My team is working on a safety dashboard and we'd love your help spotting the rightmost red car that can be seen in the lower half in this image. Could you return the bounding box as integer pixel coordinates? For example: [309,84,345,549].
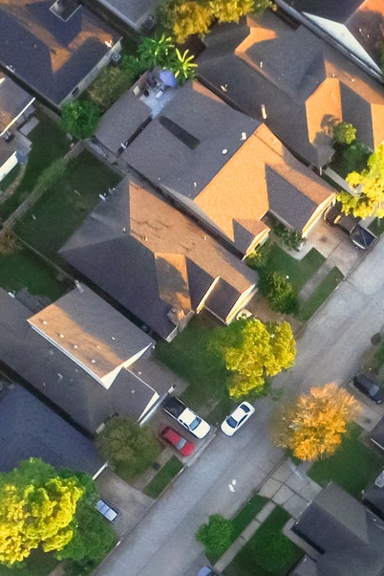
[155,422,198,459]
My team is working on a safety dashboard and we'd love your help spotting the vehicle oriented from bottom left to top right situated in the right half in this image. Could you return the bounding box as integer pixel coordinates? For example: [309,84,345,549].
[219,398,258,439]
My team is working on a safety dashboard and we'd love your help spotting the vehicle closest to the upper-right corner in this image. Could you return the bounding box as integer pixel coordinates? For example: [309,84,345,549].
[323,203,374,251]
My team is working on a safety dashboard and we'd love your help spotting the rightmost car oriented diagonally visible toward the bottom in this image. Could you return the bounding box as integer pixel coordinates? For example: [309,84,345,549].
[347,368,384,408]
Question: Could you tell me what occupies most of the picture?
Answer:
buildings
